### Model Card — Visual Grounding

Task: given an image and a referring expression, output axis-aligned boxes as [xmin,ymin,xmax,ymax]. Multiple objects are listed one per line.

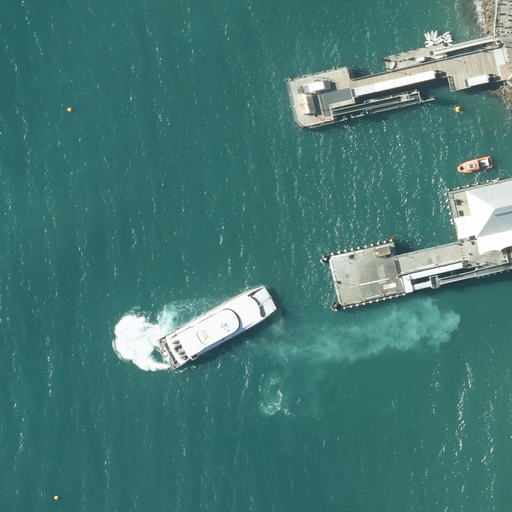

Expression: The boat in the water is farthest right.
[458,157,494,172]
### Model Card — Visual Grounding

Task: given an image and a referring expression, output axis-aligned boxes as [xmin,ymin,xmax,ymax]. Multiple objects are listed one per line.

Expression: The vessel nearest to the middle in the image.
[158,286,276,369]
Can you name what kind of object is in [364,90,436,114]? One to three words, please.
pier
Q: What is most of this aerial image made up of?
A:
water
